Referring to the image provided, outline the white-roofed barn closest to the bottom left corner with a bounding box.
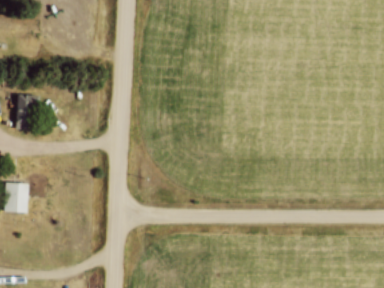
[5,182,30,214]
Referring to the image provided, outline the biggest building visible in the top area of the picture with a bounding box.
[17,94,34,130]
